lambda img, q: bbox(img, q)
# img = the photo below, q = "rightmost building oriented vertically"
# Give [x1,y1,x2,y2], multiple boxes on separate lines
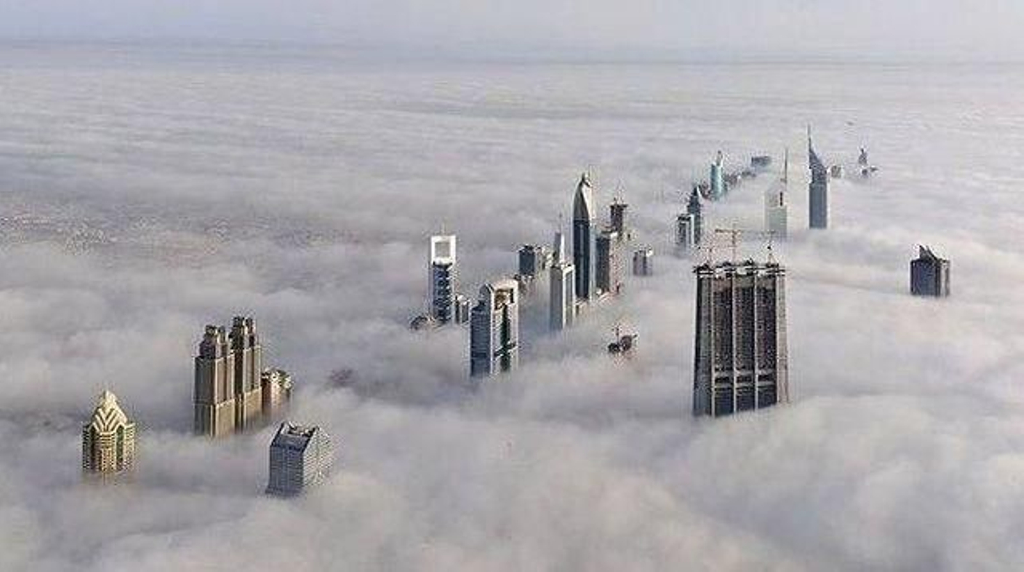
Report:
[911,240,943,314]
